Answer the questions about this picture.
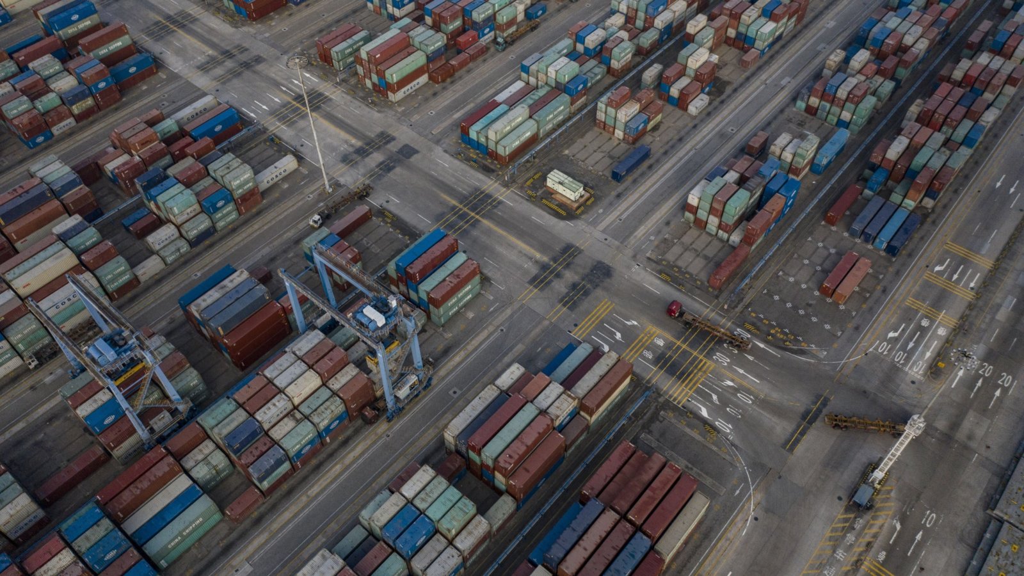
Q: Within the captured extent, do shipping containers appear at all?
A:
Yes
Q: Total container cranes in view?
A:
two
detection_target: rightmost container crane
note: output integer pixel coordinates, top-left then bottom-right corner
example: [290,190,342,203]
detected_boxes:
[273,238,441,426]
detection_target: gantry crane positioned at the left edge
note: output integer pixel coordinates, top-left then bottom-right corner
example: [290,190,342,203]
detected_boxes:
[13,264,203,456]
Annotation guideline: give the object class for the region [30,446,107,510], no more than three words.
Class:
shipping container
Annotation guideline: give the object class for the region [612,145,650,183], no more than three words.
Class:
shipping container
